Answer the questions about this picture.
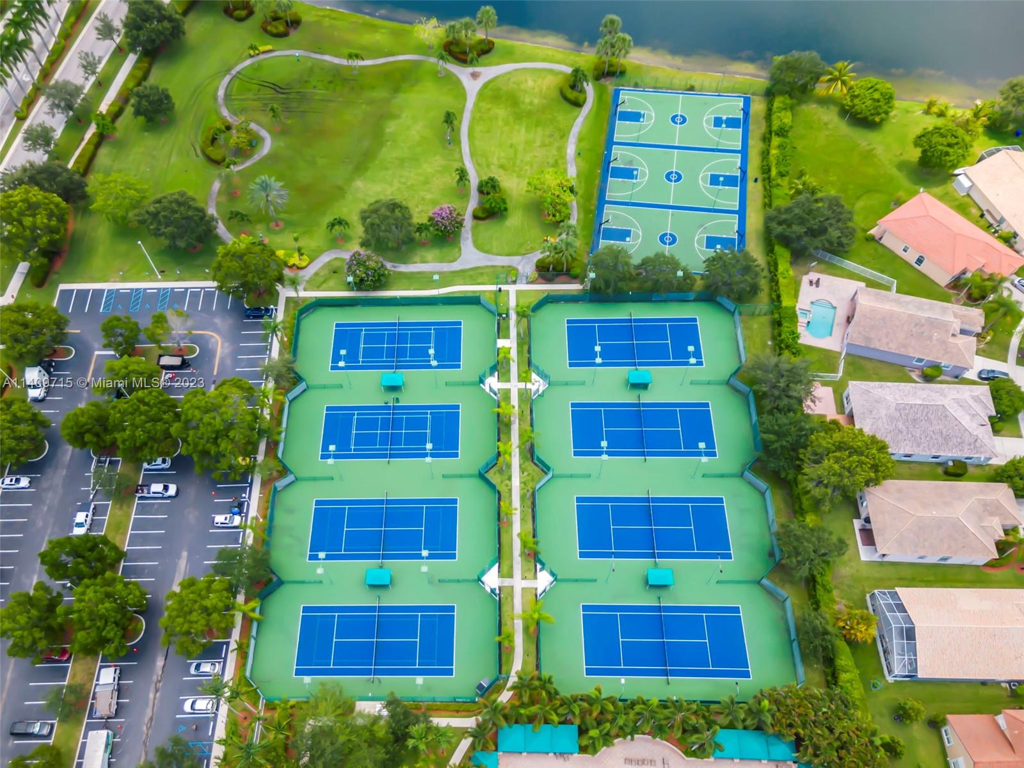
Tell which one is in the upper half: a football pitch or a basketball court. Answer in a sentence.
There is a basketball court in the upper half.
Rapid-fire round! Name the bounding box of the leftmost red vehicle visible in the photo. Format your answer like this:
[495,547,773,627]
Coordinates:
[39,647,71,662]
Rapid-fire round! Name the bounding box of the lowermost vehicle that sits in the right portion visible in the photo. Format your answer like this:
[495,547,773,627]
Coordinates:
[977,368,1009,382]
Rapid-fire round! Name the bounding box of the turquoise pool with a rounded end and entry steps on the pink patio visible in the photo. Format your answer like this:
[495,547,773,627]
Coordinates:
[806,299,836,338]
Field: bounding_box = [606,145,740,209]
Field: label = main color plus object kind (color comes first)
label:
green basketball court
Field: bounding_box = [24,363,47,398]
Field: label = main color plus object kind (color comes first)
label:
white truck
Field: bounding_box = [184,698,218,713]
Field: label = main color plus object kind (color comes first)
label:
white car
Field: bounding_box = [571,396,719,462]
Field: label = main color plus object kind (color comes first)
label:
blue tennis court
